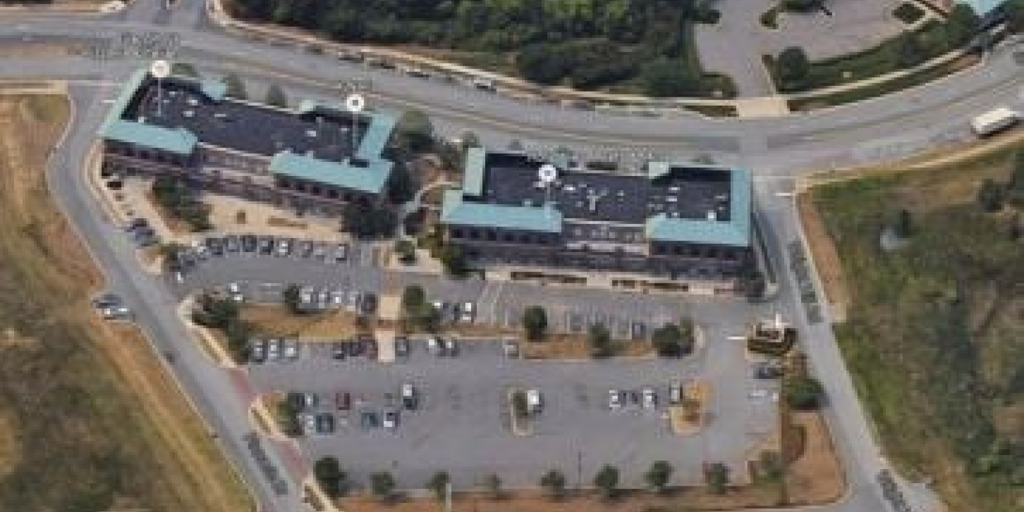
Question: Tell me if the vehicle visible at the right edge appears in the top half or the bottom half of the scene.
top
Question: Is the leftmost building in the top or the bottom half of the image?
top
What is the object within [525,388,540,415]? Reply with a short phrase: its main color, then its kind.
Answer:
white vehicle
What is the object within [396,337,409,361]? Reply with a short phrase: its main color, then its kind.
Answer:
gray vehicle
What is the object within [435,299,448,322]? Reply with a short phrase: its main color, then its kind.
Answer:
gray vehicle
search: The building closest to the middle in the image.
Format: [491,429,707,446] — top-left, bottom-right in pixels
[442,146,751,283]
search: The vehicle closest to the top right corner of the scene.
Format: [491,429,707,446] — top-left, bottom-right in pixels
[973,107,1018,135]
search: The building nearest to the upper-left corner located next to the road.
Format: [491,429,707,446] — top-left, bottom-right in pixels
[102,69,404,220]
